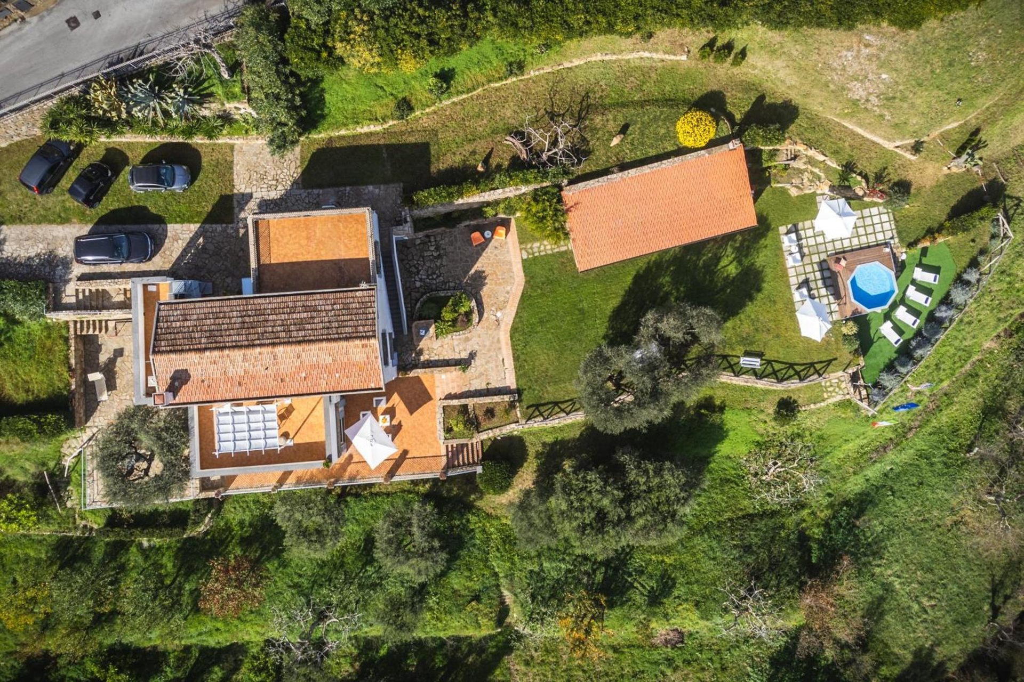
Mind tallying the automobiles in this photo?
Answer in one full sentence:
I count 4 automobiles.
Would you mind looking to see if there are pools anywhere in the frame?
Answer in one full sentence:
Yes, there's a pool here.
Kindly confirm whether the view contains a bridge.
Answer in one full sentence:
No, the scene contains no bridge.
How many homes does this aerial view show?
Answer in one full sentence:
My tally gives 2 homes in this view.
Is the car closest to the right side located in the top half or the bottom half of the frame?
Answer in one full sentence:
The top half of the photo is where the car closest to the right side is.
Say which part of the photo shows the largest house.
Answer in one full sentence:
Look in the left portion of the view to spot the largest house.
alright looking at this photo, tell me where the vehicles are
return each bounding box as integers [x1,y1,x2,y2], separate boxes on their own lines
[70,229,157,266]
[65,157,119,214]
[17,137,81,198]
[125,160,195,193]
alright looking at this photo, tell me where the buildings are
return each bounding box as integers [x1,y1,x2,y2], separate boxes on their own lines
[128,203,403,475]
[558,139,758,273]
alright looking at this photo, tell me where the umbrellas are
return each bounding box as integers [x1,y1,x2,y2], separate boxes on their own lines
[347,412,399,467]
[813,196,856,241]
[794,300,831,339]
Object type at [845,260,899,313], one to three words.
swimming pool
